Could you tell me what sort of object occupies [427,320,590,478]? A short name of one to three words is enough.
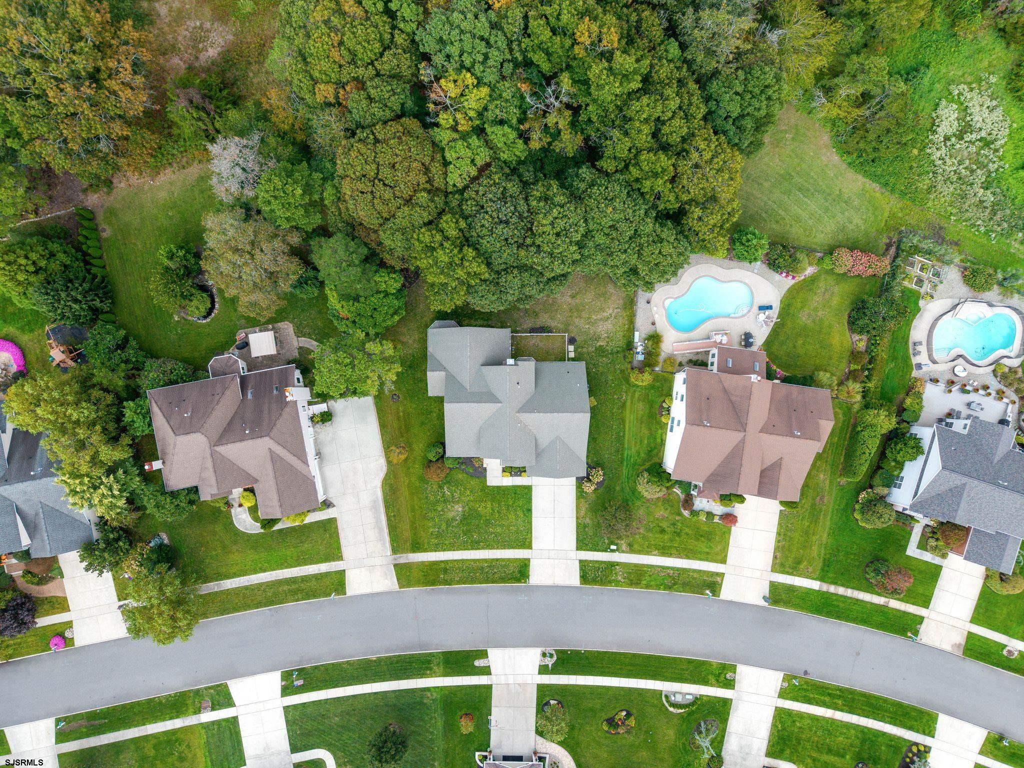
house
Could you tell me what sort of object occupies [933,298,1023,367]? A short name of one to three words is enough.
swimming pool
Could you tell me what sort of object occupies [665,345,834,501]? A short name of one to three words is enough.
house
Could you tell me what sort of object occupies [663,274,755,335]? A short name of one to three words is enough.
swimming pool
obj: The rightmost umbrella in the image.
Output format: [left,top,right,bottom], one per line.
[950,364,967,378]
